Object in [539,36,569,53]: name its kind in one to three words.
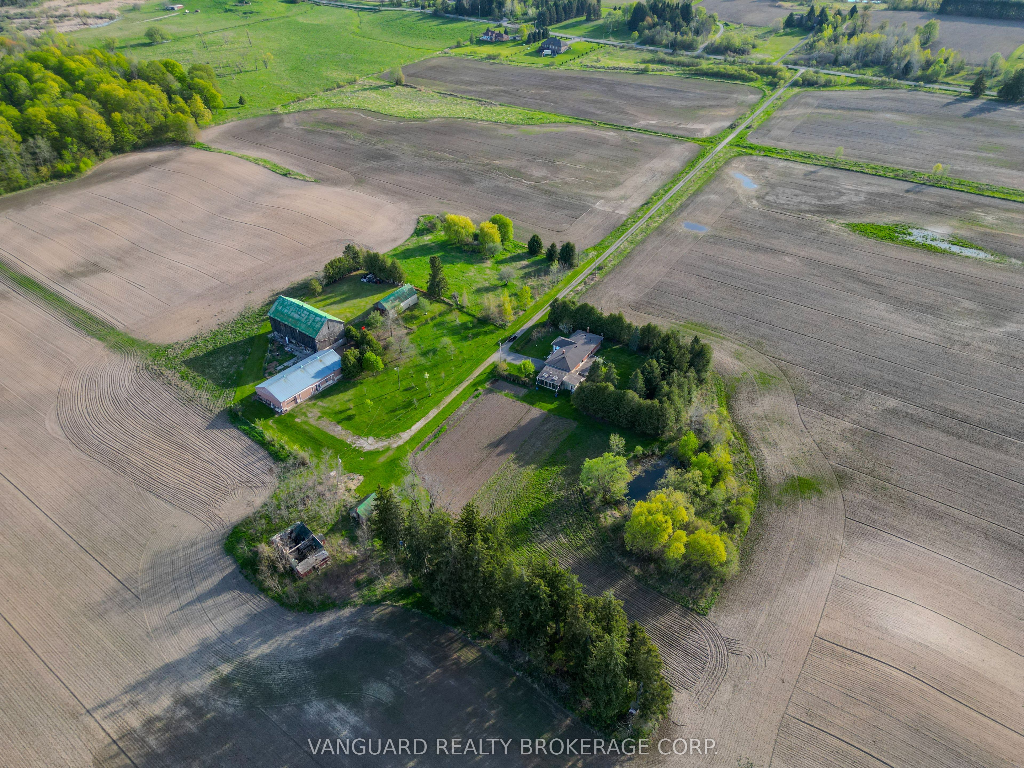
house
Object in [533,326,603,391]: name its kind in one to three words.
house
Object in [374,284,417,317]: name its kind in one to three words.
barn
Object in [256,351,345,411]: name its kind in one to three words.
shed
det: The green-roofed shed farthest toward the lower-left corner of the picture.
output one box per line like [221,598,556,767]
[349,490,381,523]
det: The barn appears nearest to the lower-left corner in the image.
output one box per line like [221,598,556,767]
[269,521,334,581]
